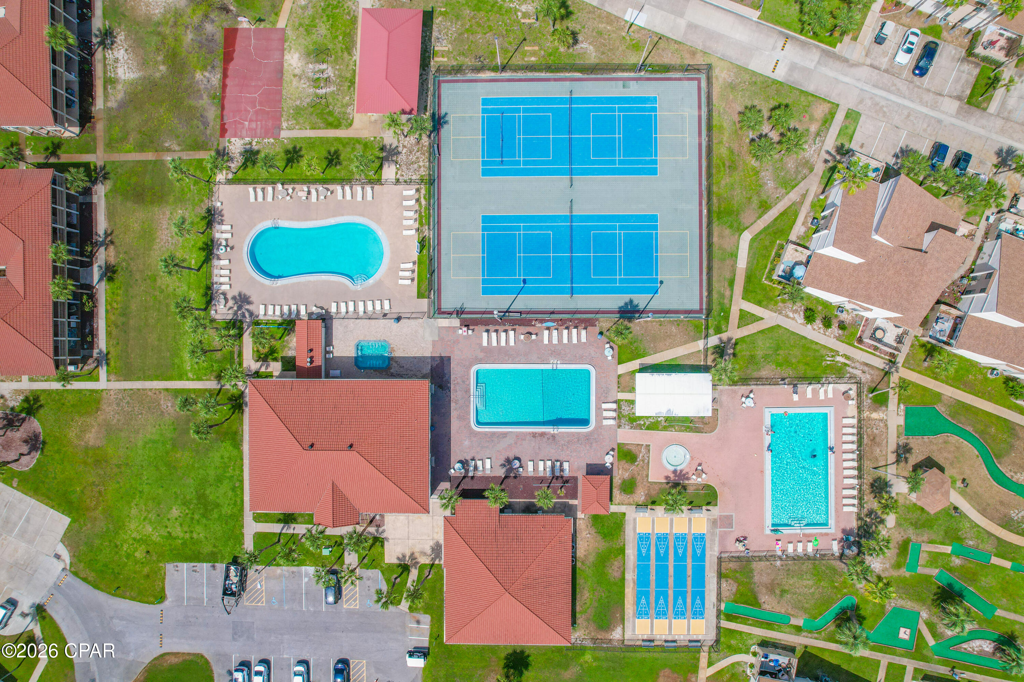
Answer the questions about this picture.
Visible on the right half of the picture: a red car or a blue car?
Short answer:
blue car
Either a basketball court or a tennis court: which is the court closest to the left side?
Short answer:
basketball court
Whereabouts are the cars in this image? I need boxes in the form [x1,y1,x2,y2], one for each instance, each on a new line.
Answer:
[292,660,307,682]
[896,25,924,65]
[233,664,250,682]
[332,660,347,682]
[322,567,340,606]
[253,660,269,682]
[950,146,979,183]
[914,37,944,77]
[929,139,955,173]
[874,11,903,47]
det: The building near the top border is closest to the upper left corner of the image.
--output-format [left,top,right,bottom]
[0,0,76,135]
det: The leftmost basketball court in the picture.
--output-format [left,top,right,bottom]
[220,27,285,138]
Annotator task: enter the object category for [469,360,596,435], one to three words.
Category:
swimming pool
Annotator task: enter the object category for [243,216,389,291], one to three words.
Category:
swimming pool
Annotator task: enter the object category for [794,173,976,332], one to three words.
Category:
house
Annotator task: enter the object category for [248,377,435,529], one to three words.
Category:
building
